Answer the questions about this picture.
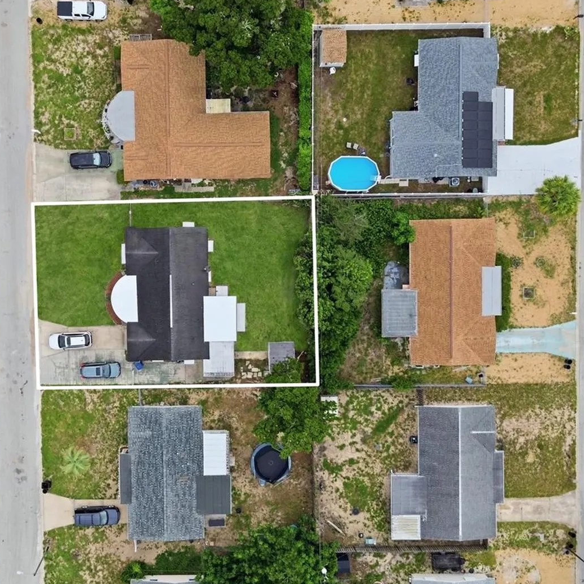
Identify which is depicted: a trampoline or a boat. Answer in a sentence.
Looking from above, you can make out a trampoline.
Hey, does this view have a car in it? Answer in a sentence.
Yes, a car appears in the view.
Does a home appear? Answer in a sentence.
Yes, a home is visible in the scene.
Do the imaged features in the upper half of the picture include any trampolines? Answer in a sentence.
No, looking in the upper half of the picture, there is no trampoline.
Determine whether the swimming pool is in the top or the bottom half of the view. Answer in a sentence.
The swimming pool is in the top half of the image.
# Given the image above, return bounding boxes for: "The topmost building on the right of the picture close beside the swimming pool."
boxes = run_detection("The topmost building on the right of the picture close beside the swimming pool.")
[388,34,512,180]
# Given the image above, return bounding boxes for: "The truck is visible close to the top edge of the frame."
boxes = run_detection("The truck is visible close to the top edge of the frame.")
[57,0,108,21]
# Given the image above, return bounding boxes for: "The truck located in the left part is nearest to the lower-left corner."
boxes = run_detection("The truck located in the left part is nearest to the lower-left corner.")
[73,506,121,528]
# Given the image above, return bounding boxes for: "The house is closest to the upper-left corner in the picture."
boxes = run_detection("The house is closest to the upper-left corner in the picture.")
[101,39,270,182]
